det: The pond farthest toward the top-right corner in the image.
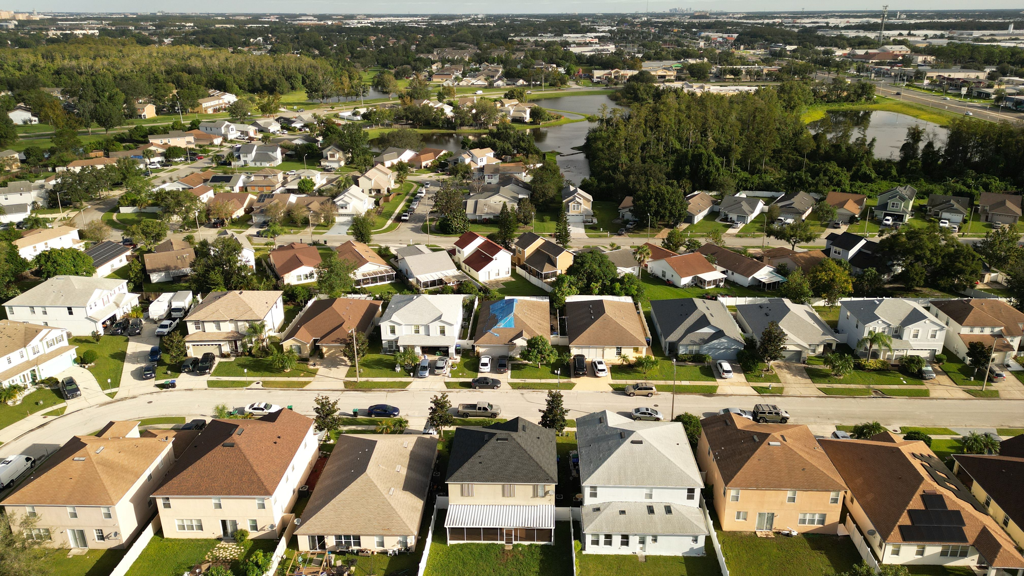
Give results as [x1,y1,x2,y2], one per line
[807,109,950,154]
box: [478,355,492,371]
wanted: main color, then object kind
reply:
white car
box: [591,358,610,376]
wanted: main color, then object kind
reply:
white car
